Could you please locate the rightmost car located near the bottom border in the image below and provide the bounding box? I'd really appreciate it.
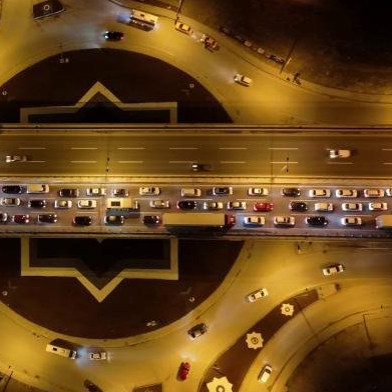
[257,363,273,385]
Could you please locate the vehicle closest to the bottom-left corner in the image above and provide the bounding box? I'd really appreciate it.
[47,342,76,360]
